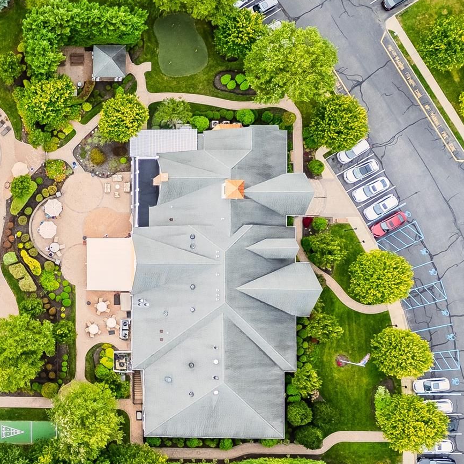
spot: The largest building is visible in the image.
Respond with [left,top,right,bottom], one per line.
[85,124,324,438]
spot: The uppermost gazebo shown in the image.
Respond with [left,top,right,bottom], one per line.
[89,45,126,84]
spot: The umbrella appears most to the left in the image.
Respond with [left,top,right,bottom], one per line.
[12,161,28,177]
